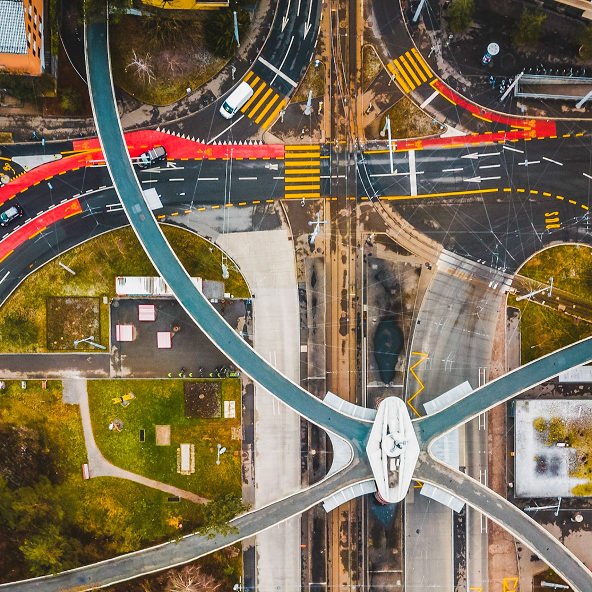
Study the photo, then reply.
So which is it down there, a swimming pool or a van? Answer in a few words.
van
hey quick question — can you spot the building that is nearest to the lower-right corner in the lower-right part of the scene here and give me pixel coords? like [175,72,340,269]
[514,398,592,499]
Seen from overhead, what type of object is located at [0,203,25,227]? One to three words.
car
